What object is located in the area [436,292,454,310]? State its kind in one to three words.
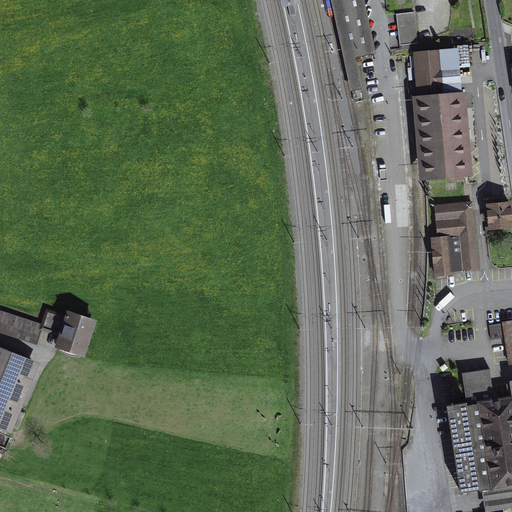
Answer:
vehicle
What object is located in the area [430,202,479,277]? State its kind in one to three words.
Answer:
house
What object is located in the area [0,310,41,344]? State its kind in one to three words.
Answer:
barn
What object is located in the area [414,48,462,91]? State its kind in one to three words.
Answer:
building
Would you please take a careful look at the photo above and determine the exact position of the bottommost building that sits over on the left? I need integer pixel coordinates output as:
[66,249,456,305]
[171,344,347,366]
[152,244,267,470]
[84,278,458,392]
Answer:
[0,348,40,433]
